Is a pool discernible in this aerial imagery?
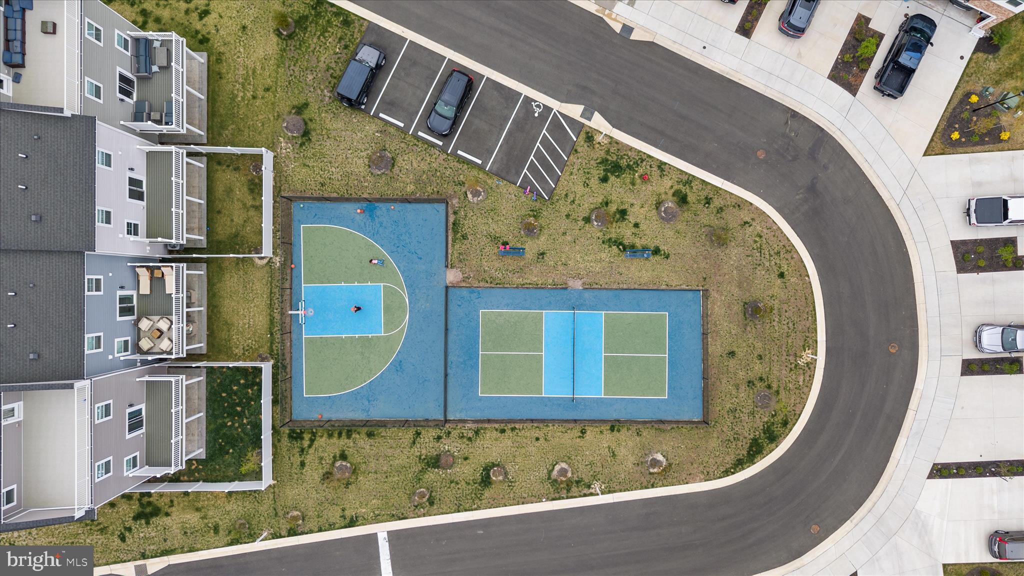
No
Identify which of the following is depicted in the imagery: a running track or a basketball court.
basketball court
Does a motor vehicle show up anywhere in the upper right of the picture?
Yes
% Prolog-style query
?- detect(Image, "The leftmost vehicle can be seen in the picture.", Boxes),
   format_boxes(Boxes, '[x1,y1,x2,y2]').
[334,41,385,108]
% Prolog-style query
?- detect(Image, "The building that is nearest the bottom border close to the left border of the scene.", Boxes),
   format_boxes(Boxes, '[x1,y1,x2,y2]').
[0,362,205,528]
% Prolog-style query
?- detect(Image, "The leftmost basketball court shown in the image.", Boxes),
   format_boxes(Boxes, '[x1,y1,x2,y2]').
[293,202,445,419]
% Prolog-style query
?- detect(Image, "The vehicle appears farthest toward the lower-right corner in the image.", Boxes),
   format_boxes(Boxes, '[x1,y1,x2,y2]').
[985,527,1024,559]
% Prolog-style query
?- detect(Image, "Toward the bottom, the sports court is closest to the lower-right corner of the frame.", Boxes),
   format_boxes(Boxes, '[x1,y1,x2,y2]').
[445,287,702,420]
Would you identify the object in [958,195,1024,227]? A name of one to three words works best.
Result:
truck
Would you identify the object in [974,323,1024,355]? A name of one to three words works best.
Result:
car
